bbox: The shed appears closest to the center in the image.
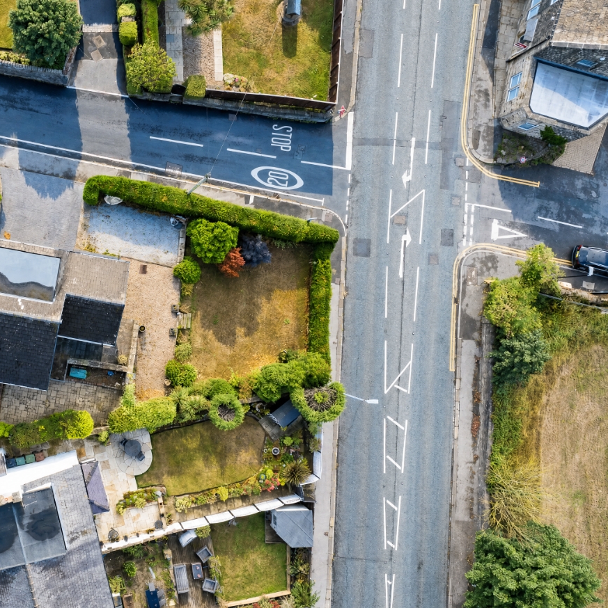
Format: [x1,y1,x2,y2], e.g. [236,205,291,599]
[268,406,300,431]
